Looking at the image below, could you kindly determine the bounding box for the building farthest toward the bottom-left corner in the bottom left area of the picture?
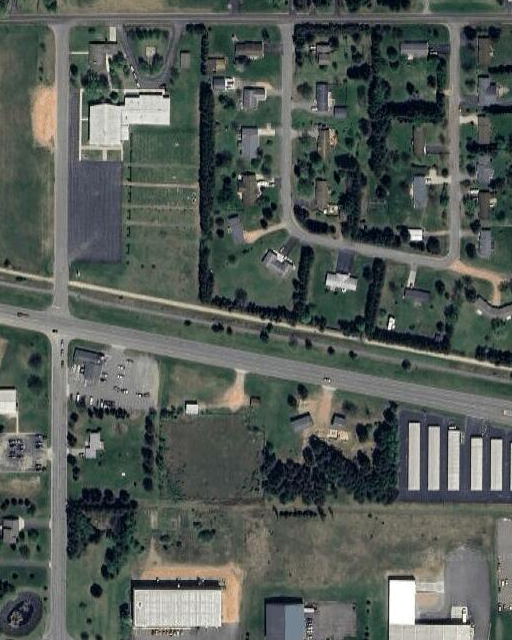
[0,518,19,542]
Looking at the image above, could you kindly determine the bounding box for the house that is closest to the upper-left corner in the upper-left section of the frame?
[89,42,117,71]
